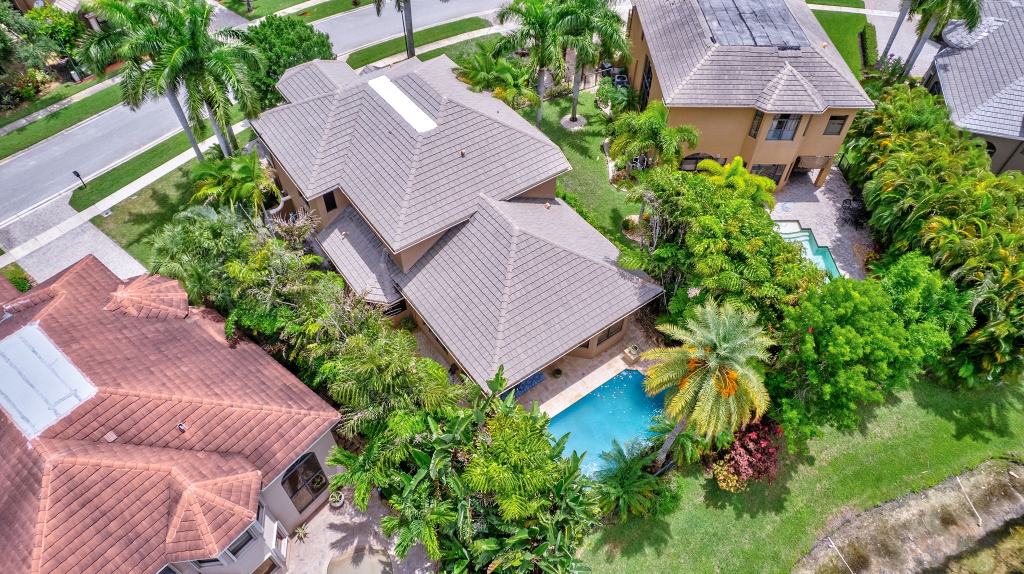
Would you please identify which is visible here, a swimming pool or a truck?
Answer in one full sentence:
Of the two, only a swimming pool appears.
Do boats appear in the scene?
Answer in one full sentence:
No, no boat is visible in the scene.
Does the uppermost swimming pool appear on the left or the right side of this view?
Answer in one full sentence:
The uppermost swimming pool is on the right side of the image.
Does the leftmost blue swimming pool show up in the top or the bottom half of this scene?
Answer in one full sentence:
The bottom half of the photo is where the leftmost blue swimming pool is.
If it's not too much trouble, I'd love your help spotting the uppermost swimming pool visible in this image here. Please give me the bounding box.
[765,219,845,290]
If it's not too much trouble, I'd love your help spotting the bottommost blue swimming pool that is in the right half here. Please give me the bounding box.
[542,365,706,482]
